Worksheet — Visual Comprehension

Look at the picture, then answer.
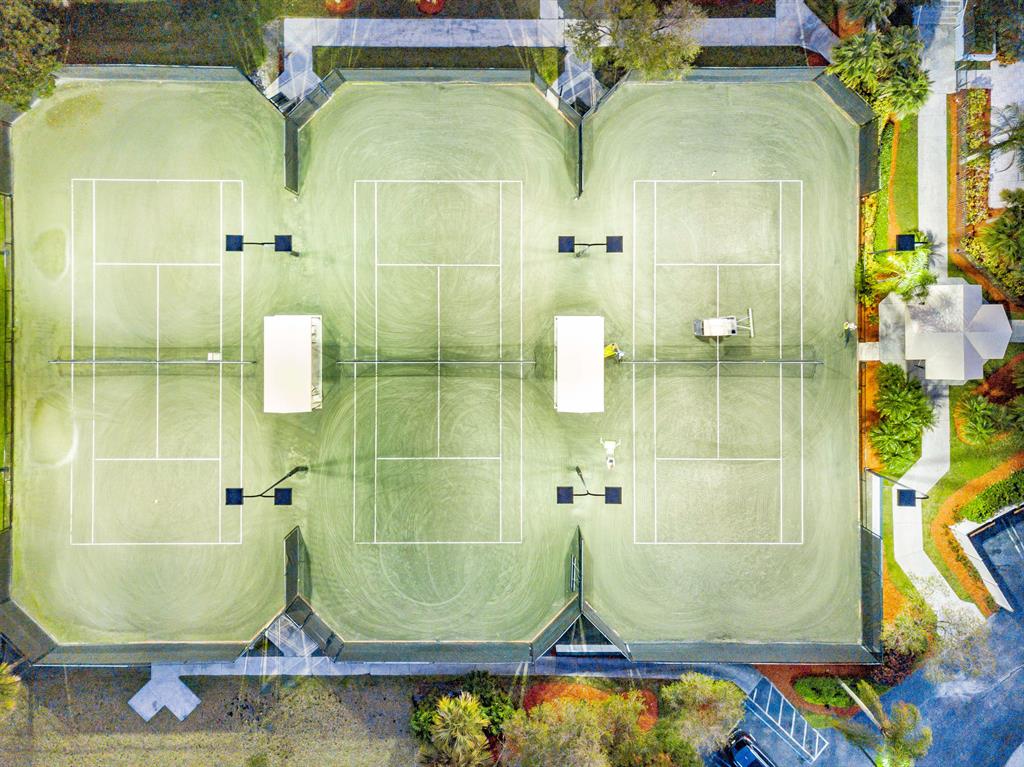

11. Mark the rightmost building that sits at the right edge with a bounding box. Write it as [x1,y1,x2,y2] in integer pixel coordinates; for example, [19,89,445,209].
[904,284,1012,380]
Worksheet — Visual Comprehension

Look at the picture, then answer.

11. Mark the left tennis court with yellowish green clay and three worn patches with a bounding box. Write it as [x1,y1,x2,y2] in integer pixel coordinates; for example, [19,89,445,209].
[9,81,302,644]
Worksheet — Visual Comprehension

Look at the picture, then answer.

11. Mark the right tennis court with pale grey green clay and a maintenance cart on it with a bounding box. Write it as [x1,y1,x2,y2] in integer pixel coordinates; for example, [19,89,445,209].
[580,82,862,643]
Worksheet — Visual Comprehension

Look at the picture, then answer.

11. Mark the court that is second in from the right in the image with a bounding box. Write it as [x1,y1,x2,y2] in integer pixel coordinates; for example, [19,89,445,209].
[302,84,580,642]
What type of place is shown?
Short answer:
sports ground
